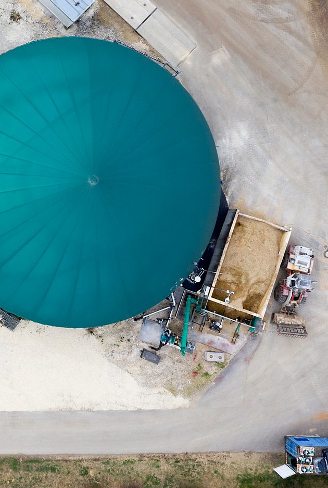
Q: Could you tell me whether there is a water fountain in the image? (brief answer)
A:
No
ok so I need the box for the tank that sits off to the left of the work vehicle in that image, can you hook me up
[0,36,224,329]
